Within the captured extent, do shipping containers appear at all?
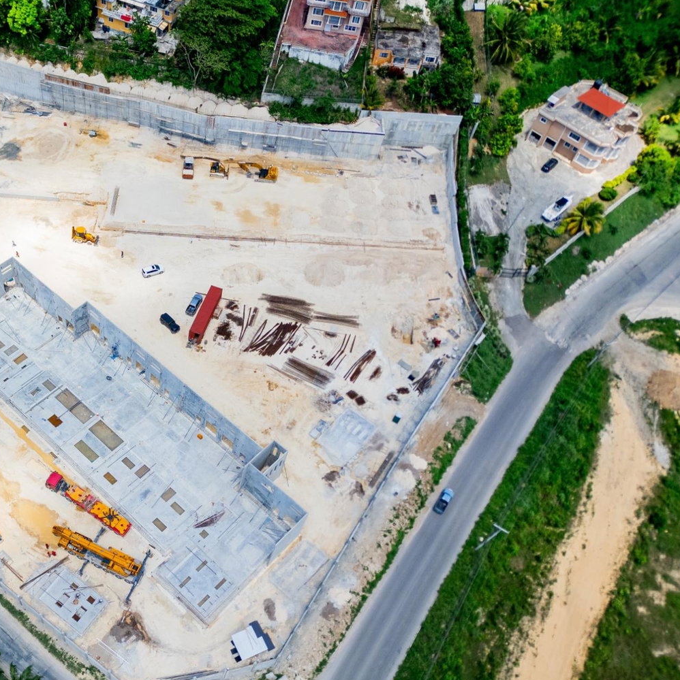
Yes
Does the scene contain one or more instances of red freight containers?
Yes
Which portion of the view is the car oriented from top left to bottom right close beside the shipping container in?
left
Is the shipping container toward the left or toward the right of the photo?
left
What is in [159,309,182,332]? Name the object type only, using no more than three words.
car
